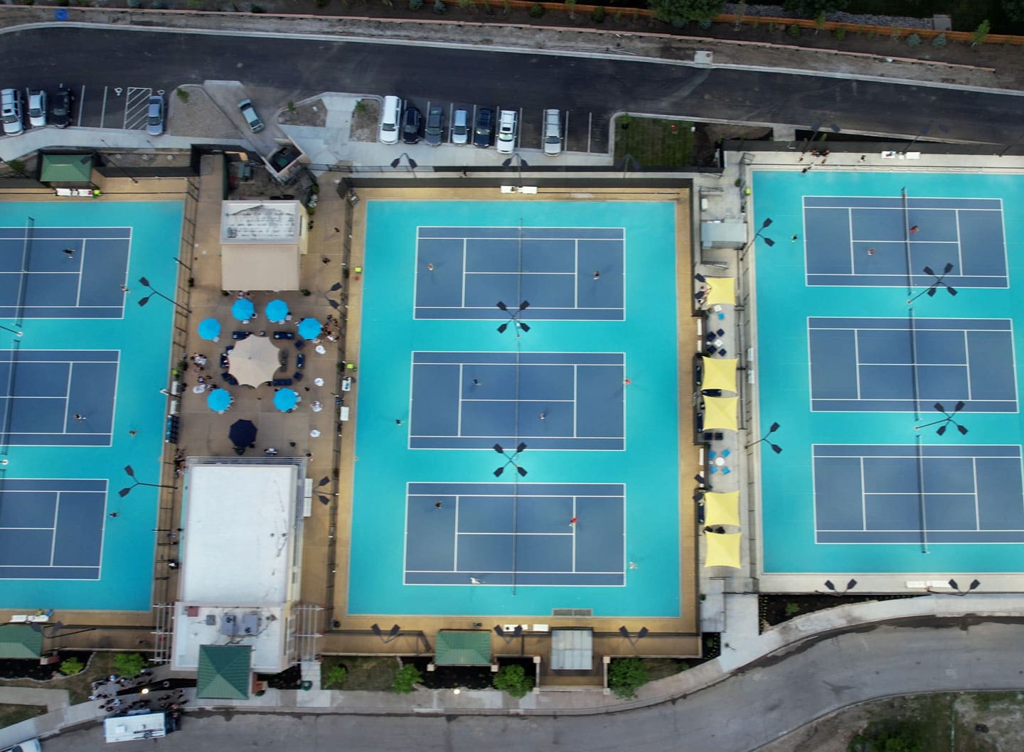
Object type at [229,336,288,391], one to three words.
umbrella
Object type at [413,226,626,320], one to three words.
tennis court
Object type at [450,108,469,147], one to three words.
car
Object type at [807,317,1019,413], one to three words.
tennis court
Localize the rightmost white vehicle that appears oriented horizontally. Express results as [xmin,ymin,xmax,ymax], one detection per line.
[106,706,190,742]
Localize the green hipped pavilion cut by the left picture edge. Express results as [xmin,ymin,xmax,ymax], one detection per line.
[0,623,59,659]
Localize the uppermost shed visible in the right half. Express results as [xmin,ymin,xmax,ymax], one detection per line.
[699,218,747,252]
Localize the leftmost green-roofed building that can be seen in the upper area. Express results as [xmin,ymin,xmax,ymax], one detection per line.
[40,154,107,193]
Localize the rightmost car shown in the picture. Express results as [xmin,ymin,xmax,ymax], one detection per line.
[542,109,563,156]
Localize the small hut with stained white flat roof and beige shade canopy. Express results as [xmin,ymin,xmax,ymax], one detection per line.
[221,200,312,298]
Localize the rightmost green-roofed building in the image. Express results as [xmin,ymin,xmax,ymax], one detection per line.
[435,630,493,665]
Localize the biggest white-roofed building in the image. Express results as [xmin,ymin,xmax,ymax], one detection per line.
[144,457,324,699]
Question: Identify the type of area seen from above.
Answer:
sports ground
